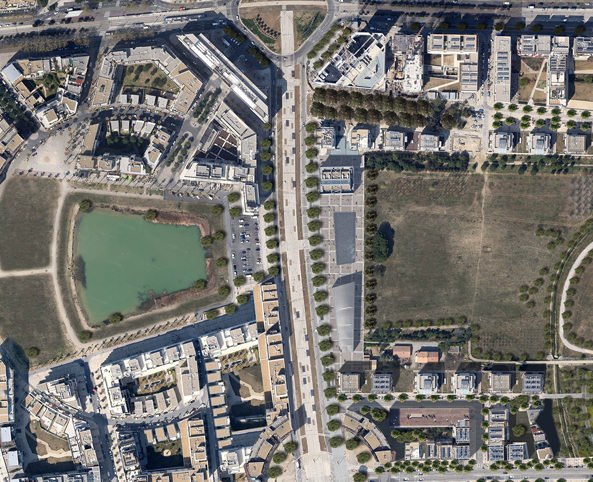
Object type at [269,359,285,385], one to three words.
building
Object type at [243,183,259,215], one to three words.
building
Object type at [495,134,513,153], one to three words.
house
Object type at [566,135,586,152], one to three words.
house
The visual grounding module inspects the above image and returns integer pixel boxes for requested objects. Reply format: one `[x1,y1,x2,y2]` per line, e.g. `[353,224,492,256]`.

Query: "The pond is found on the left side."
[78,210,206,325]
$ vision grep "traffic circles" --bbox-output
[231,0,339,59]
